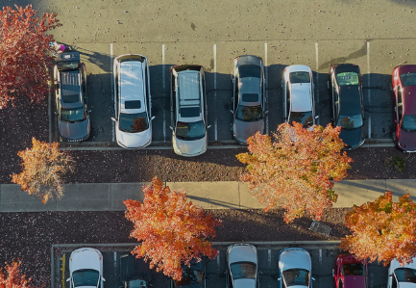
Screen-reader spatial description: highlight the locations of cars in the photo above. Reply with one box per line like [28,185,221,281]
[390,63,416,154]
[230,54,269,146]
[112,53,154,149]
[282,64,319,150]
[327,62,370,151]
[224,243,263,288]
[65,246,106,288]
[167,248,211,288]
[331,252,370,288]
[168,64,210,158]
[53,49,94,143]
[277,246,317,288]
